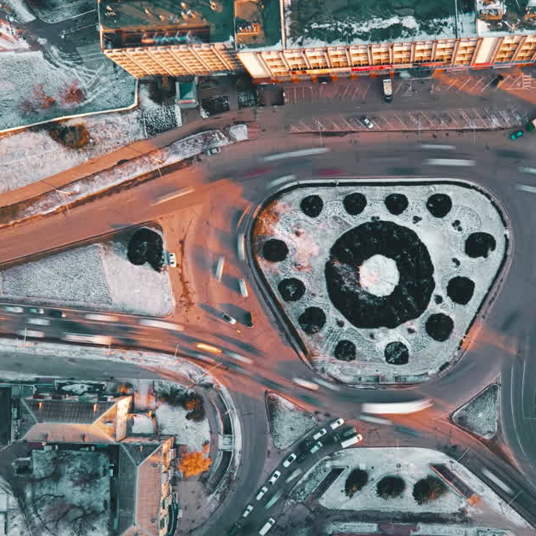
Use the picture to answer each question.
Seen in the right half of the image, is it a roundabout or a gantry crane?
roundabout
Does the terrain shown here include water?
No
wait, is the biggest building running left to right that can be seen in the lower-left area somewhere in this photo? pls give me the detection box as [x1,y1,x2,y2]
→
[22,394,138,443]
